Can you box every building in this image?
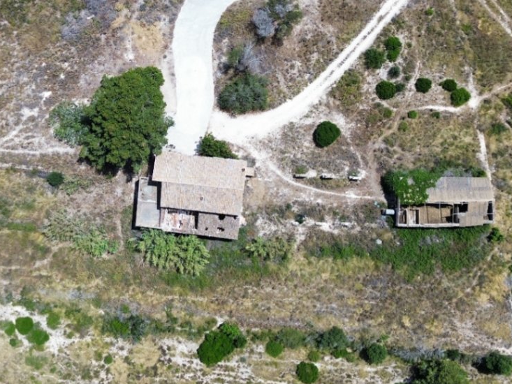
[136,156,254,241]
[390,176,494,228]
